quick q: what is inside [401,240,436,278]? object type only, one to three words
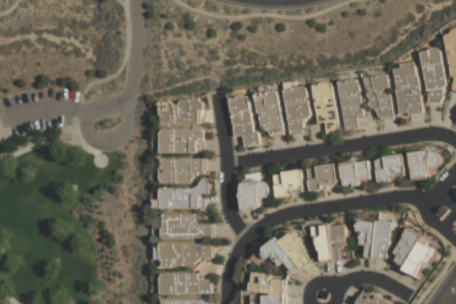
house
